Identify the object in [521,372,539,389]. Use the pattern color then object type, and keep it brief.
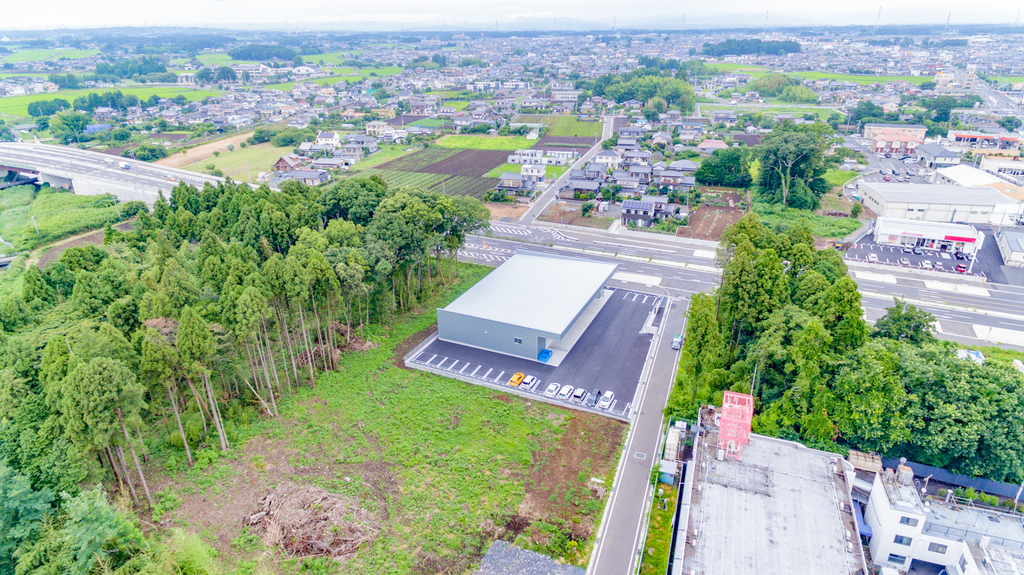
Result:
white car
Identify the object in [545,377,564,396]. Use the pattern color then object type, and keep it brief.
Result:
white car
